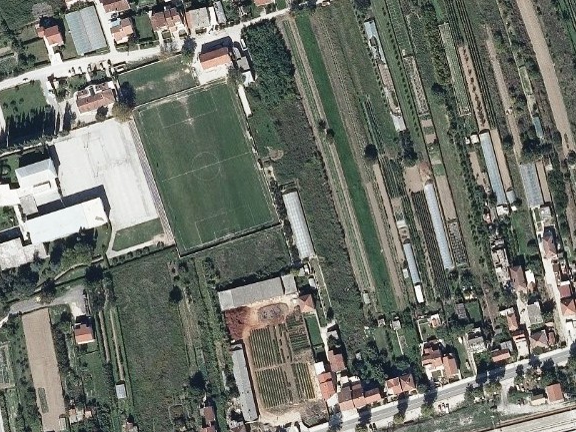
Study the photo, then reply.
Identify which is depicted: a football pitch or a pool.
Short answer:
football pitch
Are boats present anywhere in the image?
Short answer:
No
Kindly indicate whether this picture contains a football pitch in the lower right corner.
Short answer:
No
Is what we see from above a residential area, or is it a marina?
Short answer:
residential area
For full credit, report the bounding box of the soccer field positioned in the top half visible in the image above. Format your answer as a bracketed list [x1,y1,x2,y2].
[134,80,280,256]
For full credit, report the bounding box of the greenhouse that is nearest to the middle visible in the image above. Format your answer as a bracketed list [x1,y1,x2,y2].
[283,191,314,259]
